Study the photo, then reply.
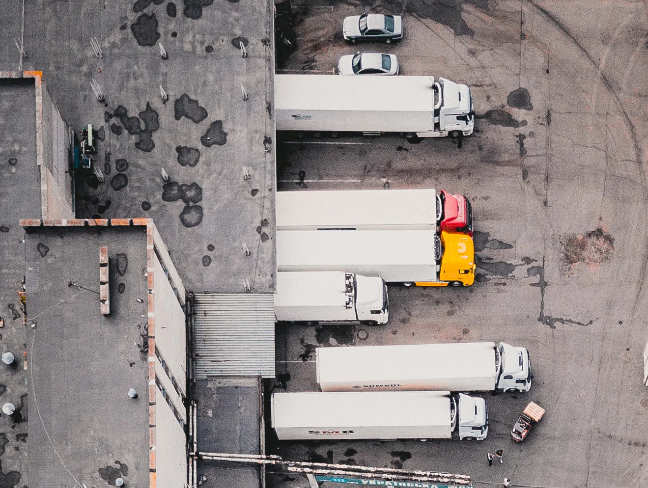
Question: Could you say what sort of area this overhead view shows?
industrial area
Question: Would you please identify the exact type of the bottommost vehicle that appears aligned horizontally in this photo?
truck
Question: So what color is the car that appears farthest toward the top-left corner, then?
black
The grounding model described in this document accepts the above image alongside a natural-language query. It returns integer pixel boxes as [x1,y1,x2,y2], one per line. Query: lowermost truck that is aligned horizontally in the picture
[270,391,490,444]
